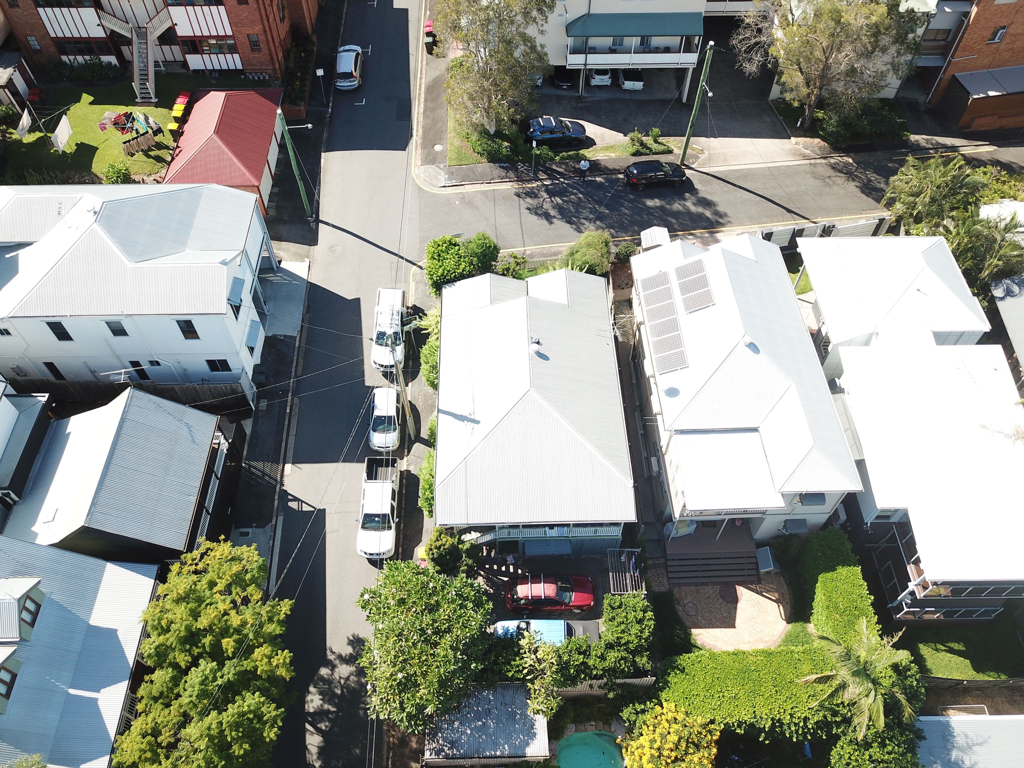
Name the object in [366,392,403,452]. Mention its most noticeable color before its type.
white car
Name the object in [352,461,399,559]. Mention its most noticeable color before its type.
white truck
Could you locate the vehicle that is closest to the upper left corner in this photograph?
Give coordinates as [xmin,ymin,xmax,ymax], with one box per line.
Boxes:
[334,50,363,91]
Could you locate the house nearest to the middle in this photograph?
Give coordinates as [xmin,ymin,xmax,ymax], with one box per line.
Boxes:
[434,268,638,556]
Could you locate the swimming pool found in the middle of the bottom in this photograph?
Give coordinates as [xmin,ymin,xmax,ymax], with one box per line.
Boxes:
[557,729,625,768]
